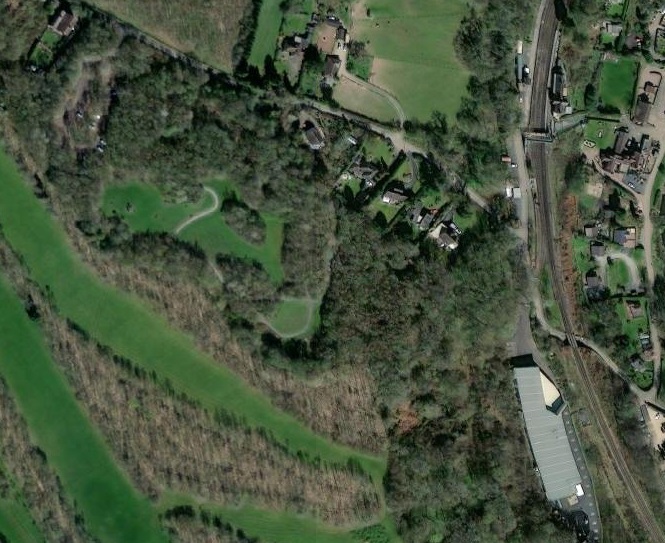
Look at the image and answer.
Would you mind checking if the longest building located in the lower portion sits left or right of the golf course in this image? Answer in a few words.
to the right of it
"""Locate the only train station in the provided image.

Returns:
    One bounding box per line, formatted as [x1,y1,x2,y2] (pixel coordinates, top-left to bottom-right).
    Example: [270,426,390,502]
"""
[527,0,557,128]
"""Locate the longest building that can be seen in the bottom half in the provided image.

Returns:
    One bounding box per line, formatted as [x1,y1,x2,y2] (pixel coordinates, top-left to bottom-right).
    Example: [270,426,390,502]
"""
[514,367,581,501]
